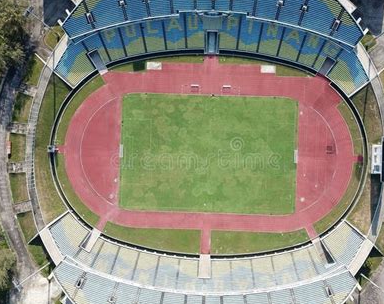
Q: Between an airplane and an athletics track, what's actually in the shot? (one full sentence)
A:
This aerial view contains an athletics track.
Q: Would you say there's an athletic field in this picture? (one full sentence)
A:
Yes, you can see an athletic field in this photo.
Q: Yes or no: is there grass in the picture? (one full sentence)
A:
Yes, grass shows up in the scene.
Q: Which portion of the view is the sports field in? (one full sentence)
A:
The sports field is located in the center region of the scene.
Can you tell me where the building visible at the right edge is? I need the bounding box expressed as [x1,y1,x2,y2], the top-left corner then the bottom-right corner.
[365,143,382,175]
